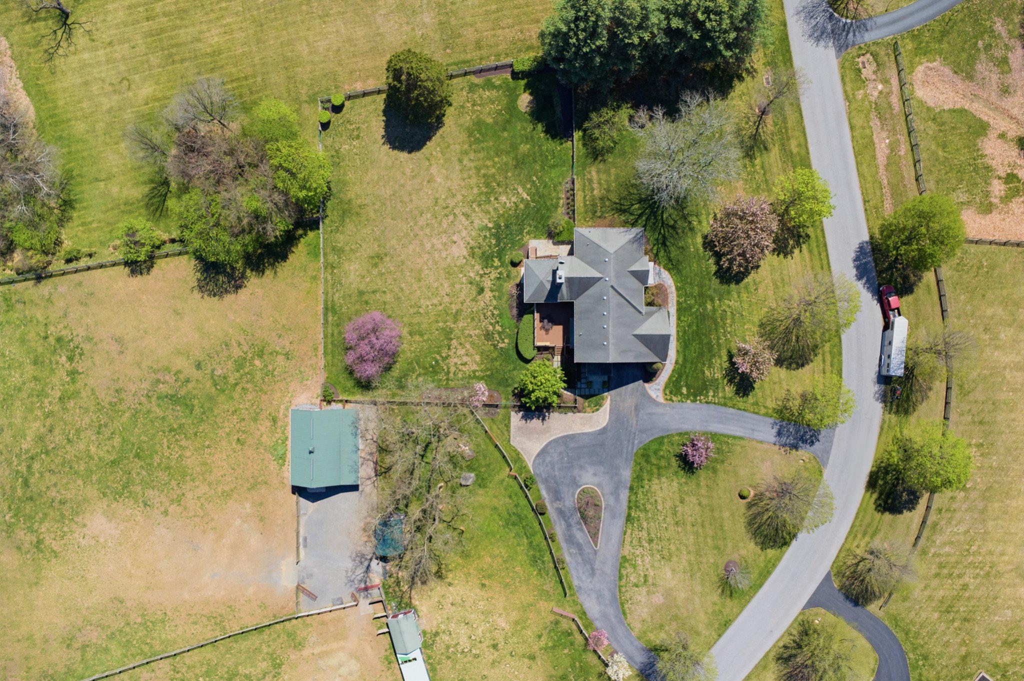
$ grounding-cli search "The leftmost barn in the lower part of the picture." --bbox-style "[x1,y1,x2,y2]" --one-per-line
[291,409,360,494]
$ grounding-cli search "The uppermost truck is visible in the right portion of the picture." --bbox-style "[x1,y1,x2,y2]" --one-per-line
[877,284,900,329]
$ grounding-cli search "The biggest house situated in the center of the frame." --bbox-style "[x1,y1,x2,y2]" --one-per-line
[524,227,672,363]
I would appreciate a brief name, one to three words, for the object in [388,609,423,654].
shed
